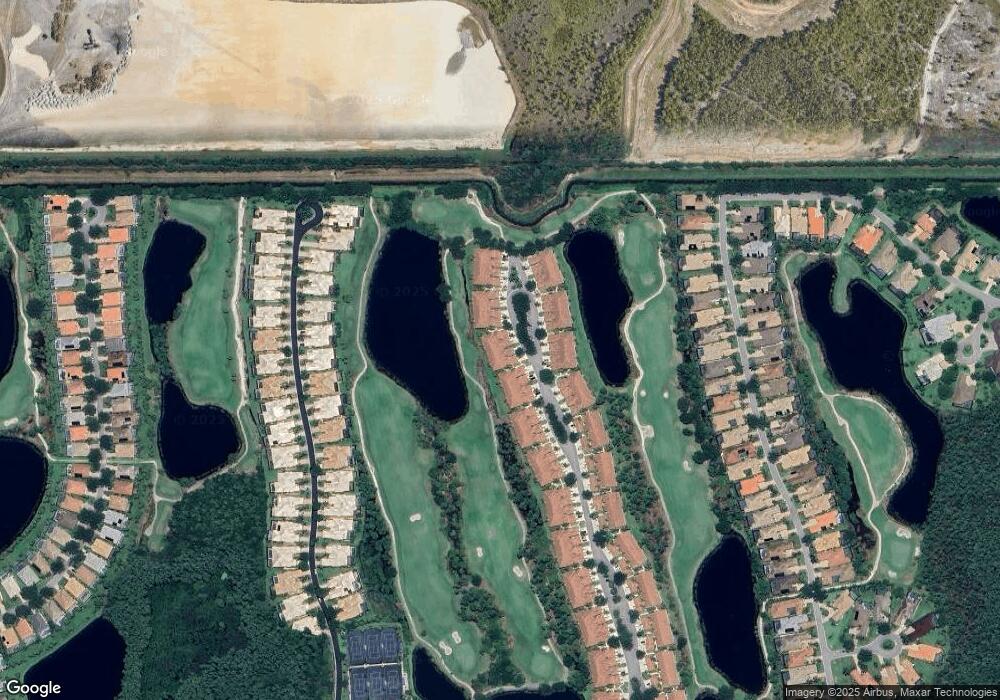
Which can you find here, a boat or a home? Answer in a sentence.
Looking from above, you can make out a home.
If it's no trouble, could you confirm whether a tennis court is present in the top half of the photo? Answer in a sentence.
No, looking in the top half of the photo, there is no tennis court.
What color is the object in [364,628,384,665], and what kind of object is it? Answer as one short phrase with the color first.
blue tennis court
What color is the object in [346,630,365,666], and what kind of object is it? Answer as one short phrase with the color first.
blue tennis court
